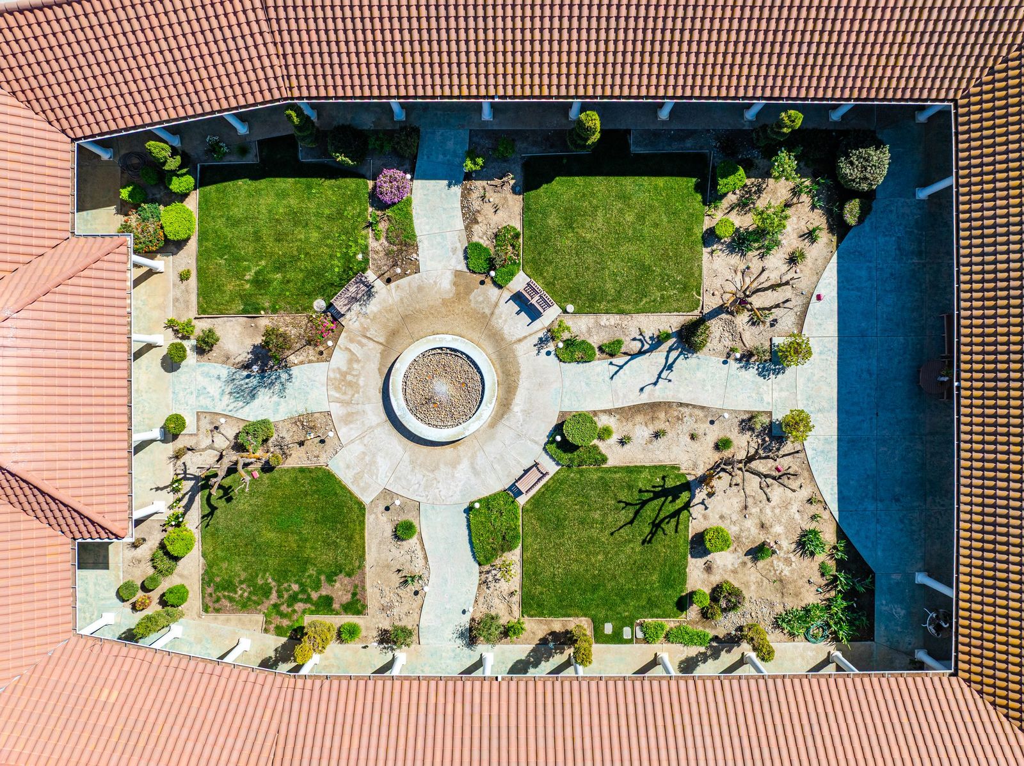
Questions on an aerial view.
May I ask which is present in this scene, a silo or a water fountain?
water fountain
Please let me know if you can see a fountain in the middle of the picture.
Yes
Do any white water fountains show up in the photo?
Yes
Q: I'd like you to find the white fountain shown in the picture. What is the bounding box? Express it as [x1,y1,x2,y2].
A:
[390,335,497,442]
